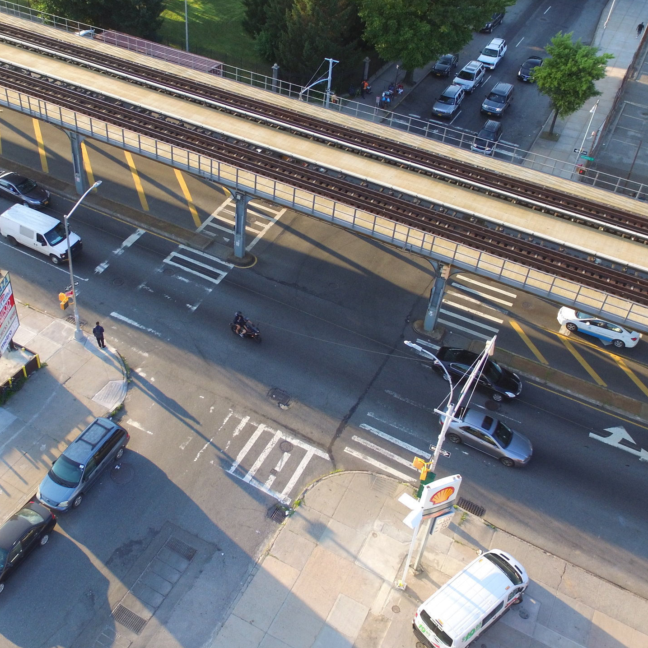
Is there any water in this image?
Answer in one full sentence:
No, water can't be seen anywhere here.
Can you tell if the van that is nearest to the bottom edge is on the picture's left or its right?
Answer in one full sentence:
The van that is nearest to the bottom edge sits on the right side.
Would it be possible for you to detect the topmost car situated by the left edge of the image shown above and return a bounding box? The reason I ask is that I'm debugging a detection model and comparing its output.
[0,170,51,208]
